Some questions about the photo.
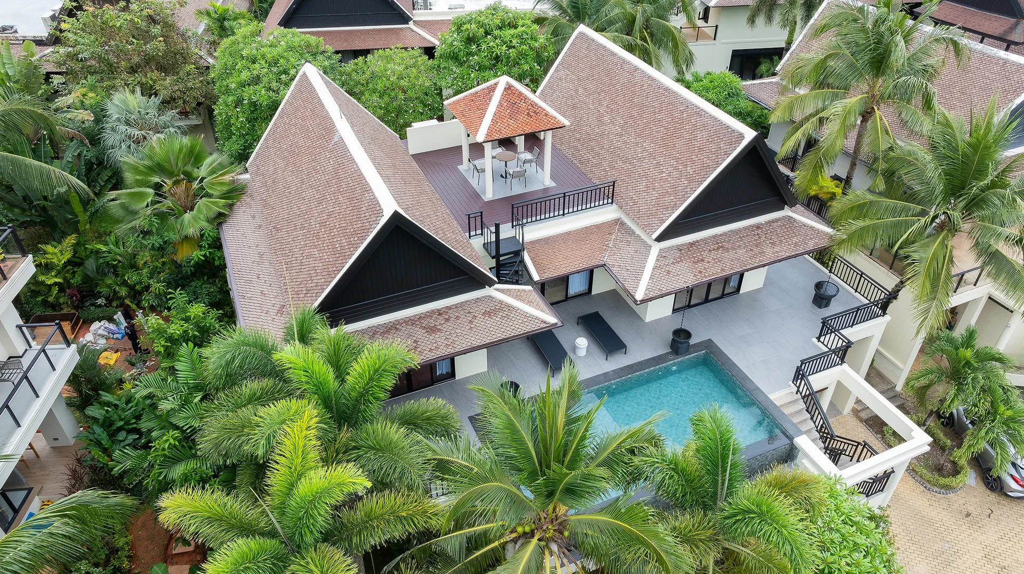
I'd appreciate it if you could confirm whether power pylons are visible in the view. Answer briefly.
No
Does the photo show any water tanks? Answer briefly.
No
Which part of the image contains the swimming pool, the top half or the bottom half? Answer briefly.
bottom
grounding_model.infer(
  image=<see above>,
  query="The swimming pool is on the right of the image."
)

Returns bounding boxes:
[468,339,804,574]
